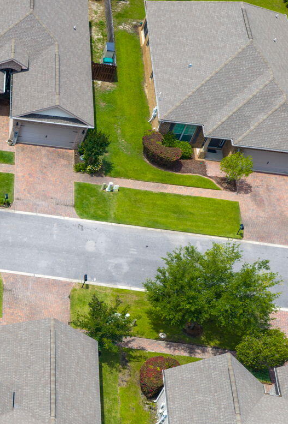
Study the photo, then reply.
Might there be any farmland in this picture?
No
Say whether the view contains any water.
No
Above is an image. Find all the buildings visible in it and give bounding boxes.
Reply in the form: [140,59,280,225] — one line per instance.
[0,318,104,424]
[0,0,96,151]
[135,0,288,179]
[142,361,288,424]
